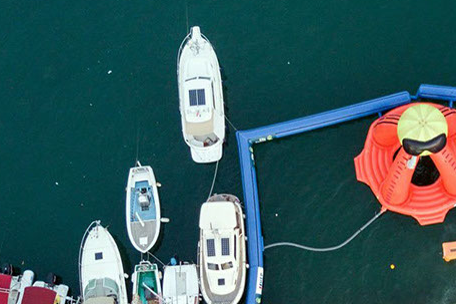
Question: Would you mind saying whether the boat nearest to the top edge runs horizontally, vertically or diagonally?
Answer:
vertically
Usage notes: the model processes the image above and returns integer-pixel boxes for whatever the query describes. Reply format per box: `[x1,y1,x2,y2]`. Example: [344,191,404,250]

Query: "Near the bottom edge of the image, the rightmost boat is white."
[196,196,250,304]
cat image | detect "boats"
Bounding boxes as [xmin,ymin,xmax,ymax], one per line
[126,142,165,253]
[0,266,33,304]
[149,253,200,304]
[196,196,250,304]
[178,9,240,195]
[74,218,134,304]
[19,279,76,304]
[132,256,165,304]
